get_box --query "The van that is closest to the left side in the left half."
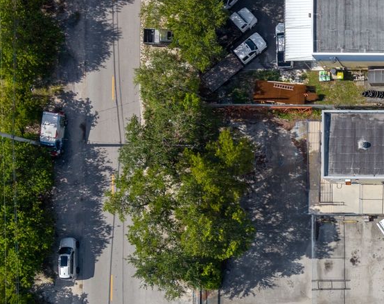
[37,109,66,158]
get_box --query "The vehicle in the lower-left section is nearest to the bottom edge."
[56,238,80,279]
